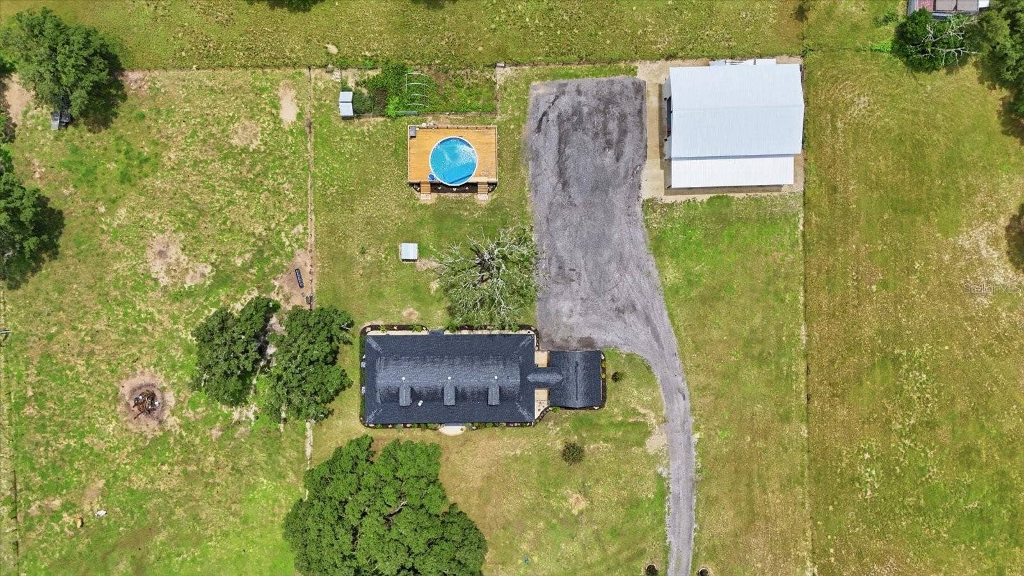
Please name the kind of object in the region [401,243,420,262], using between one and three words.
shed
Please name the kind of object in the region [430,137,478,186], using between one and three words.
swimming pool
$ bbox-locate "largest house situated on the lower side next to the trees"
[365,330,535,427]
